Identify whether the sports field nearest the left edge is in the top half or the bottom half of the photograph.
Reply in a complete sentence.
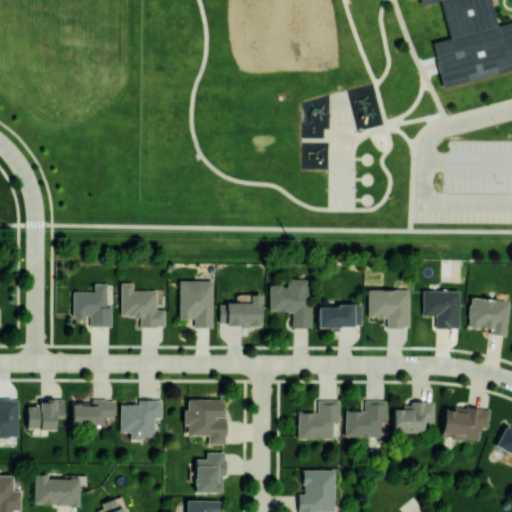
It is in the top half that the sports field nearest the left edge appears.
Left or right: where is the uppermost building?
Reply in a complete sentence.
It is on the right.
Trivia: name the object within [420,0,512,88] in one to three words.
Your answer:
building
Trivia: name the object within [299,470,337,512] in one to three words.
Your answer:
house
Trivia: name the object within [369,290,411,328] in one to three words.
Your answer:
house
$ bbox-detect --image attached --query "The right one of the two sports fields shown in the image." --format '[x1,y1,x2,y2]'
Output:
[139,0,196,204]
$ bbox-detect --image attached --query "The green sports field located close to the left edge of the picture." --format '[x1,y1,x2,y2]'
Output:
[0,0,128,126]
